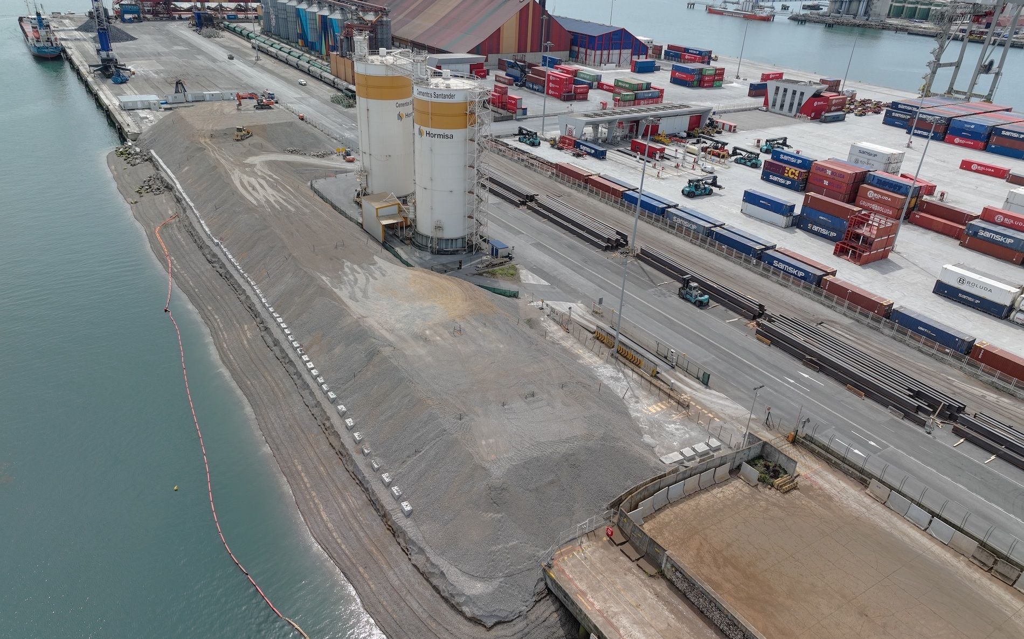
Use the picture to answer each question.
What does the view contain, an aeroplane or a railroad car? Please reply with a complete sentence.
This aerial view contains a railroad car.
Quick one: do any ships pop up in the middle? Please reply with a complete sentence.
No, no ship appears in the middle.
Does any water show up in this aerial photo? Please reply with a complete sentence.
Yes, there is water in the image.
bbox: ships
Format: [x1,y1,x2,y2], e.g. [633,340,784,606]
[705,0,783,20]
[19,0,62,61]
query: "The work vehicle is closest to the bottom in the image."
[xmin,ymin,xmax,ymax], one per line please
[672,275,707,306]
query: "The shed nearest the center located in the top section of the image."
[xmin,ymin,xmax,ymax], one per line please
[488,238,514,258]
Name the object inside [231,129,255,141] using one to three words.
vehicle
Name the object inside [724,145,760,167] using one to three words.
work vehicle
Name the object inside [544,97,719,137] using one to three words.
building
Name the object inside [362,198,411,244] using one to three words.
shed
